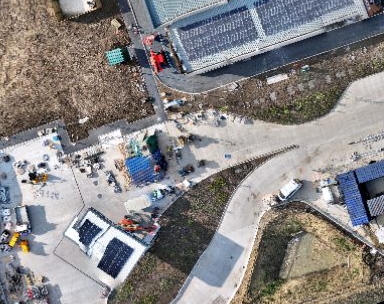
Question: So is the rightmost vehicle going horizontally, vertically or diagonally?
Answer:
diagonally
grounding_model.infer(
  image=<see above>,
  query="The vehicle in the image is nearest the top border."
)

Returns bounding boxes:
[138,25,171,48]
